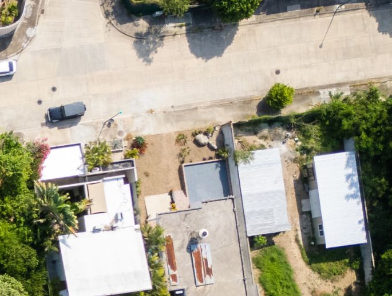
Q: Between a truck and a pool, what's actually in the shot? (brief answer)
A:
pool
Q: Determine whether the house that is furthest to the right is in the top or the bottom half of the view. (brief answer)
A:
bottom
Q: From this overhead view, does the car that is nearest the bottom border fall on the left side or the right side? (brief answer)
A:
left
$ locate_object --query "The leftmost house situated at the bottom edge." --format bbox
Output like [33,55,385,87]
[54,179,152,296]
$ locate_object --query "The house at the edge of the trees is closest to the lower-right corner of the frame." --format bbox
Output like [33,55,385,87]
[299,151,365,248]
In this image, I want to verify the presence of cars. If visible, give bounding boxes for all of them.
[0,60,17,77]
[47,101,88,124]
